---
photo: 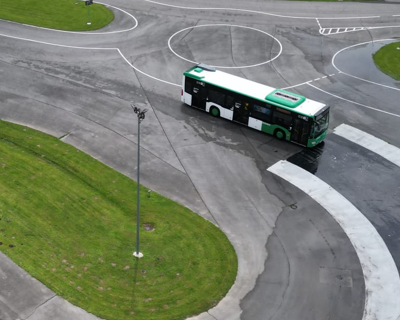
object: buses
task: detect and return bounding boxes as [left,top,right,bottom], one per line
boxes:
[181,59,337,149]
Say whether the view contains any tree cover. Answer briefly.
No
